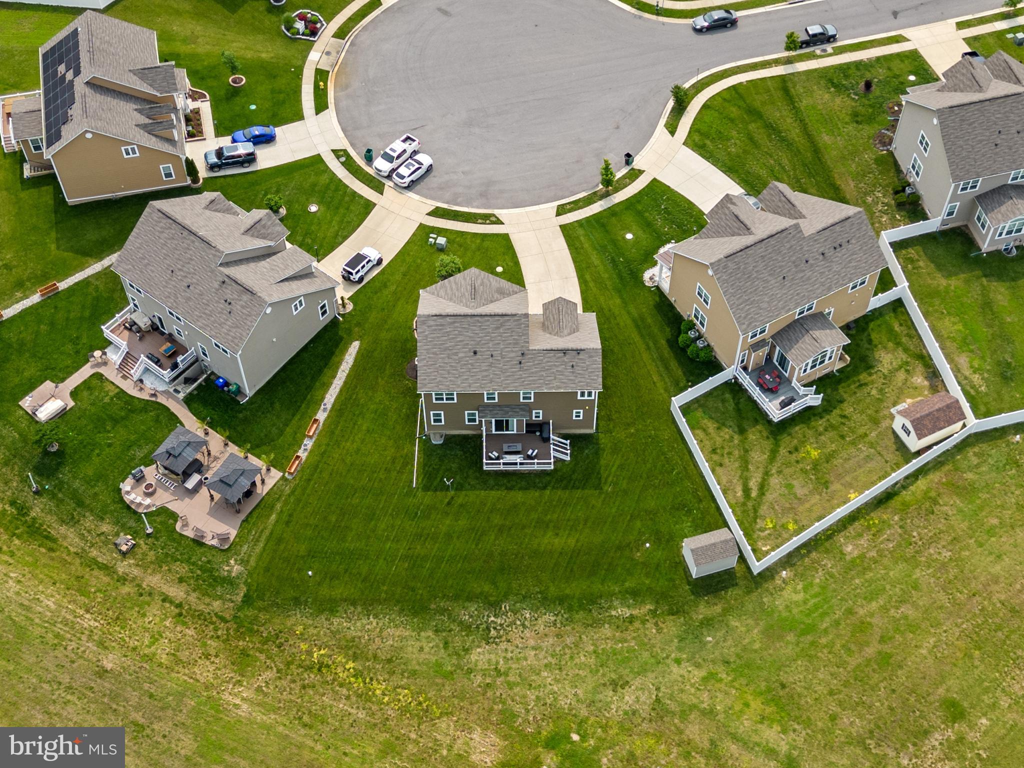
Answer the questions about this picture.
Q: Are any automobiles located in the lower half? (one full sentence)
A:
No, the scene shows no automobile in the lower half.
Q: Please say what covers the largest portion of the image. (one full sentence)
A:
The bulk of the photo consists of grass.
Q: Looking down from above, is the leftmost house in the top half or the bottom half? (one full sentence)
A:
Seen from above, the leftmost house lies in the top half of the view.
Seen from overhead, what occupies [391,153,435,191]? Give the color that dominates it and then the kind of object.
white car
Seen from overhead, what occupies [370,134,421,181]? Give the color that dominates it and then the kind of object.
white truck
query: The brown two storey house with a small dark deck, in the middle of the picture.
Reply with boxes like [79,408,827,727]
[417,266,602,433]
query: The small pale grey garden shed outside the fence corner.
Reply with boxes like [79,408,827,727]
[683,529,740,578]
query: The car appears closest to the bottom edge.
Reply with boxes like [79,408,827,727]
[341,247,384,286]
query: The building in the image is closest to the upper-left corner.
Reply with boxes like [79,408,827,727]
[10,11,189,204]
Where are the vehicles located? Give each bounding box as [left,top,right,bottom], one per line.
[787,20,843,49]
[691,9,739,33]
[341,247,384,286]
[961,38,999,64]
[391,153,435,191]
[370,134,421,181]
[203,142,257,173]
[226,125,276,145]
